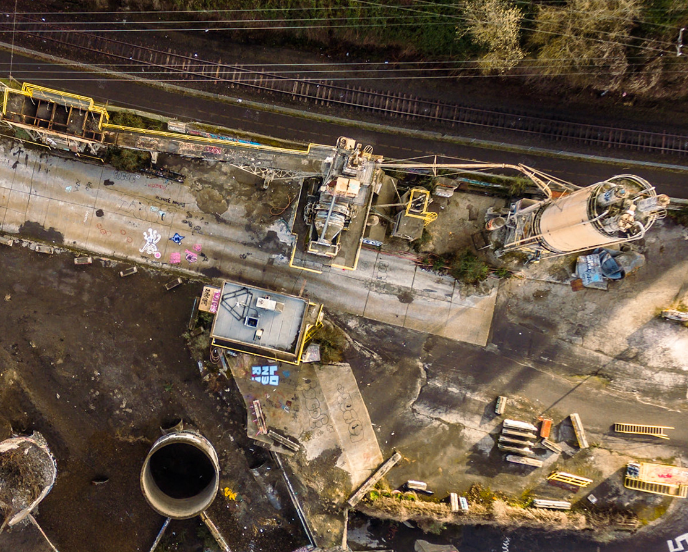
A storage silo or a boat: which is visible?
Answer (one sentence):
Visible in the photo is a storage silo.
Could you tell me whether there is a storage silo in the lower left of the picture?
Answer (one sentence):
Yes, there is a storage silo in the lower left of the picture.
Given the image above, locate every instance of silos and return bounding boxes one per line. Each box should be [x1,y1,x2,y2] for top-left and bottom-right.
[0,435,55,528]
[139,426,222,516]
[495,161,686,268]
